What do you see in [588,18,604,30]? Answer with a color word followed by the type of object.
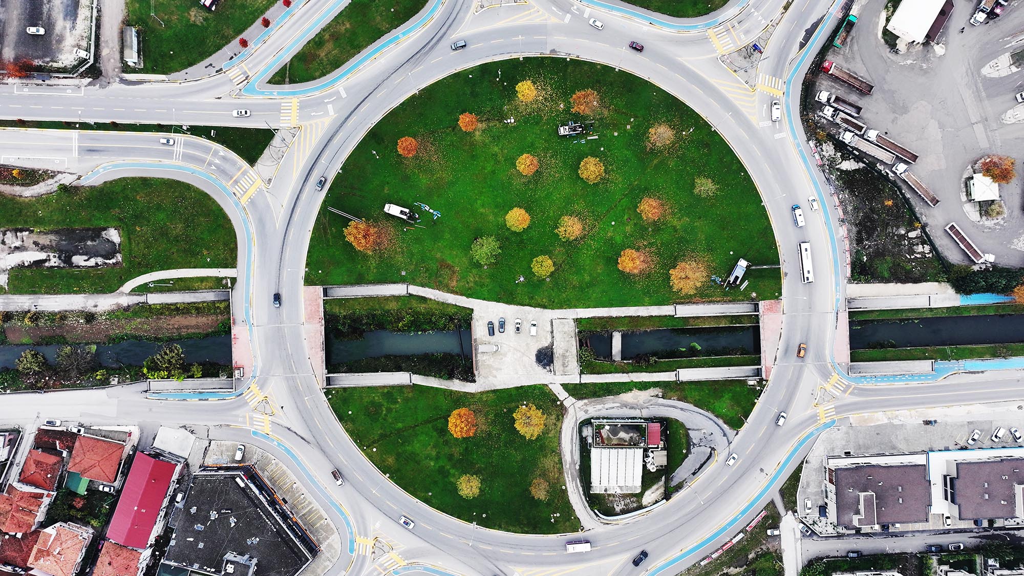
white vehicle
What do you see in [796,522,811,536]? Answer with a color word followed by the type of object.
white car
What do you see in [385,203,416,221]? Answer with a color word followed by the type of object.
white vehicle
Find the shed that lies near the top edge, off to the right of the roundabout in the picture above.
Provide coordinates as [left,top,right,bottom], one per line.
[875,0,956,50]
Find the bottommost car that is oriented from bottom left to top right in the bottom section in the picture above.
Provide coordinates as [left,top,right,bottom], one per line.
[632,548,649,566]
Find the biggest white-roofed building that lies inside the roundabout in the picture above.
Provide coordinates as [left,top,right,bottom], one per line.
[589,445,643,493]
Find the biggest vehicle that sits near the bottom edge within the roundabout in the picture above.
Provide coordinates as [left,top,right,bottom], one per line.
[566,541,592,553]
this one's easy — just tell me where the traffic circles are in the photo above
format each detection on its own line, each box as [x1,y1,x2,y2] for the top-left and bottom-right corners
[250,0,849,576]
